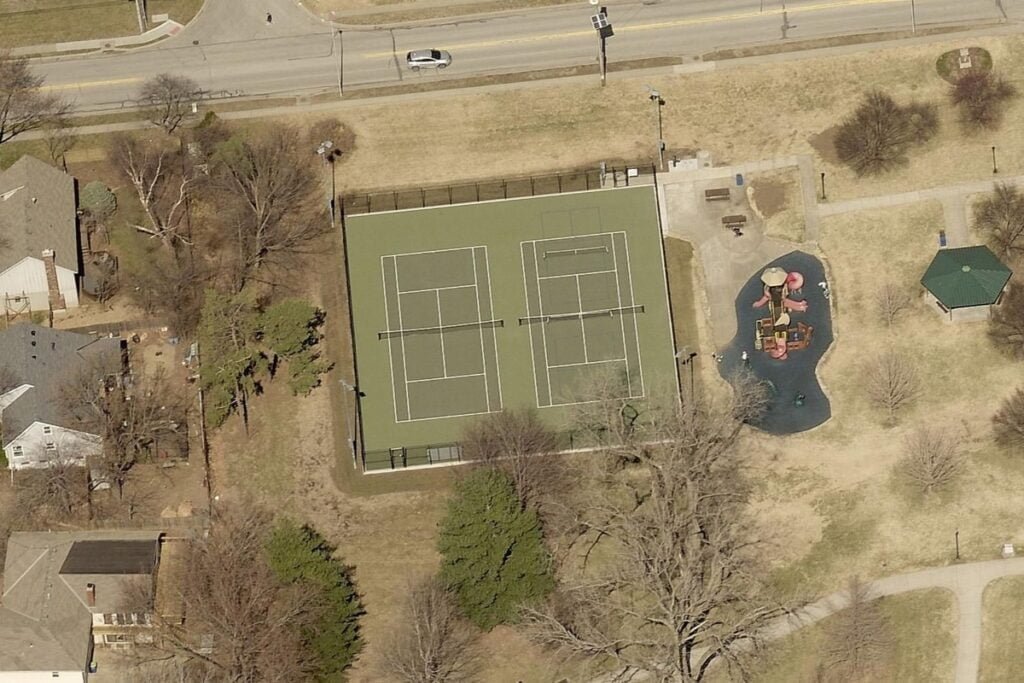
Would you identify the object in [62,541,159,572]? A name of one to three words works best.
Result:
solar panel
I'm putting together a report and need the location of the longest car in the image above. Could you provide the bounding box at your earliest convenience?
[407,49,451,72]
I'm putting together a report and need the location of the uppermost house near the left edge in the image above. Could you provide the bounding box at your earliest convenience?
[0,155,77,310]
